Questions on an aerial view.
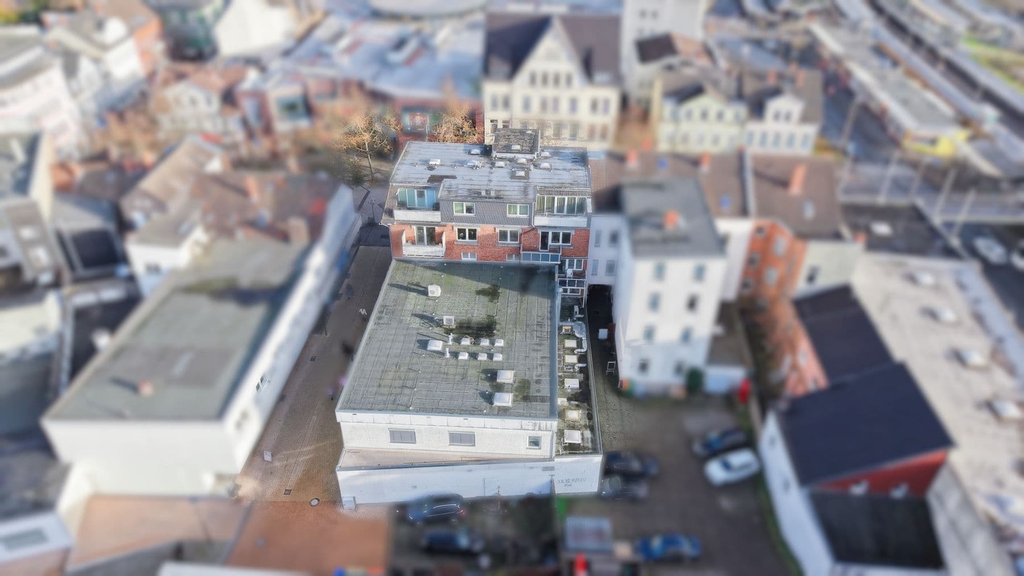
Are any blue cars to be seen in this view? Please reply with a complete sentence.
Yes, a blue car is visible in the scene.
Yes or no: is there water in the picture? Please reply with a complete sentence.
No, water can't be seen anywhere here.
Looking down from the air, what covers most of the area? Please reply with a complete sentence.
For the most part, this view shows buildings.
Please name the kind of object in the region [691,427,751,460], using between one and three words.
car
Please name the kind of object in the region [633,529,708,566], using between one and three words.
car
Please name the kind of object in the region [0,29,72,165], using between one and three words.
building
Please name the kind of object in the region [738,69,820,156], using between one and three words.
house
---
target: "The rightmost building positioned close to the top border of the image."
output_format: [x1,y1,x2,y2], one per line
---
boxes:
[810,23,963,176]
